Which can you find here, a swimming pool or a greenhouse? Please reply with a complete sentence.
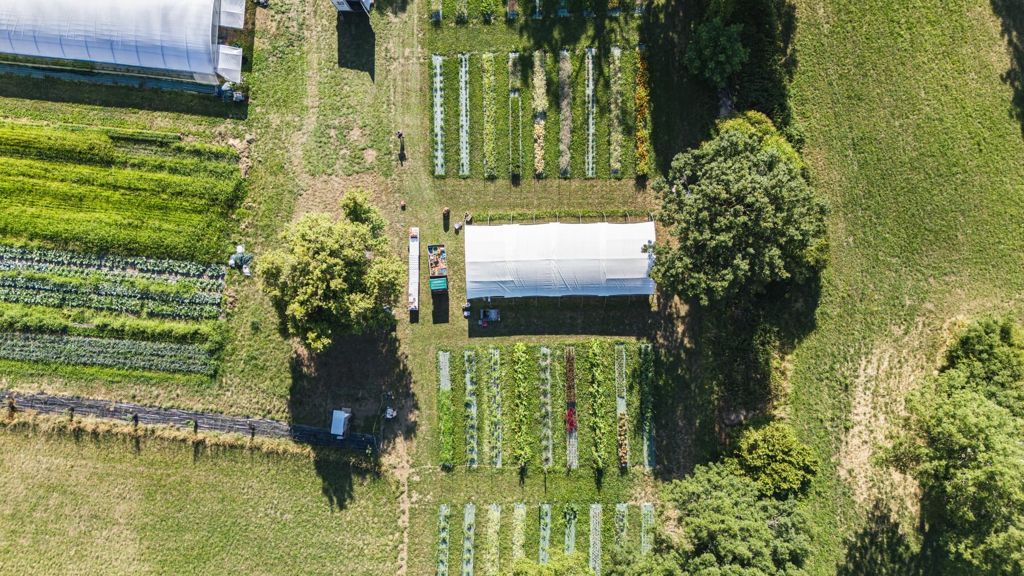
There is a greenhouse in the scene.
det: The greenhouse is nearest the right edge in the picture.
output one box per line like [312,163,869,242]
[463,212,659,307]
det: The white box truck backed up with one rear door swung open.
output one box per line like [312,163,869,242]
[330,0,373,21]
